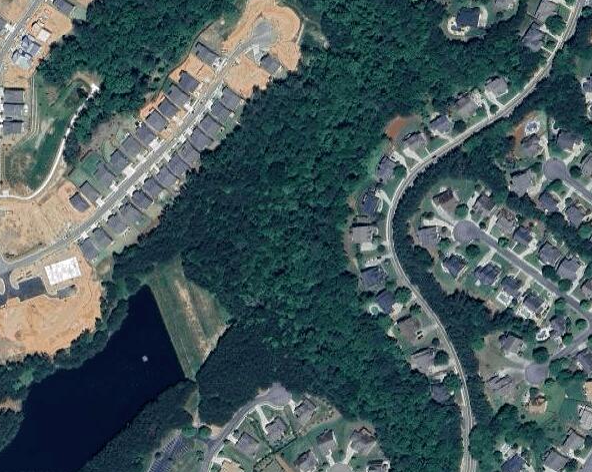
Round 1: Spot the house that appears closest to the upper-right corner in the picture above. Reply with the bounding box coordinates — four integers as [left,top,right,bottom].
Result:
[535,0,561,21]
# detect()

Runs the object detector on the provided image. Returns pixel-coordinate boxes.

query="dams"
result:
[148,273,203,377]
